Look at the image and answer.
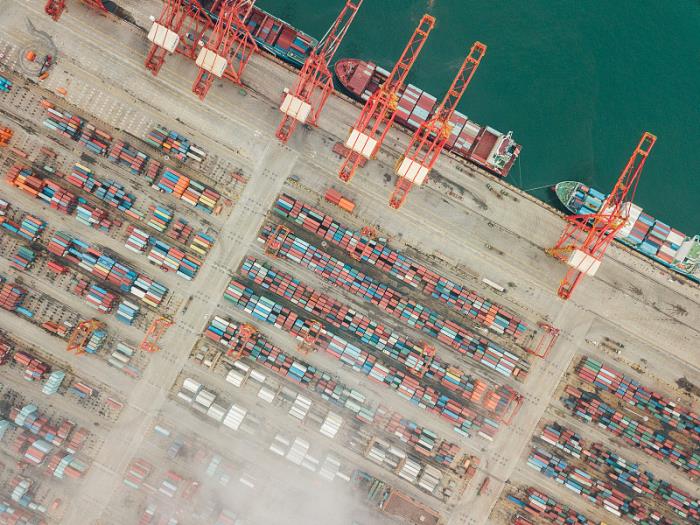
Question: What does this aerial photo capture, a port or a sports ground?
port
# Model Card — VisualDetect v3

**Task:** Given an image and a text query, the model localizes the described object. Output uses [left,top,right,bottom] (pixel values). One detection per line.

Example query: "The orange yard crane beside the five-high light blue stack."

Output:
[73,319,112,355]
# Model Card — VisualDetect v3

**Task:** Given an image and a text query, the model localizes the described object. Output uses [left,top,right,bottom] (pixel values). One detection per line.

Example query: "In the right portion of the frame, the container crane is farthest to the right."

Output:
[546,127,661,304]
